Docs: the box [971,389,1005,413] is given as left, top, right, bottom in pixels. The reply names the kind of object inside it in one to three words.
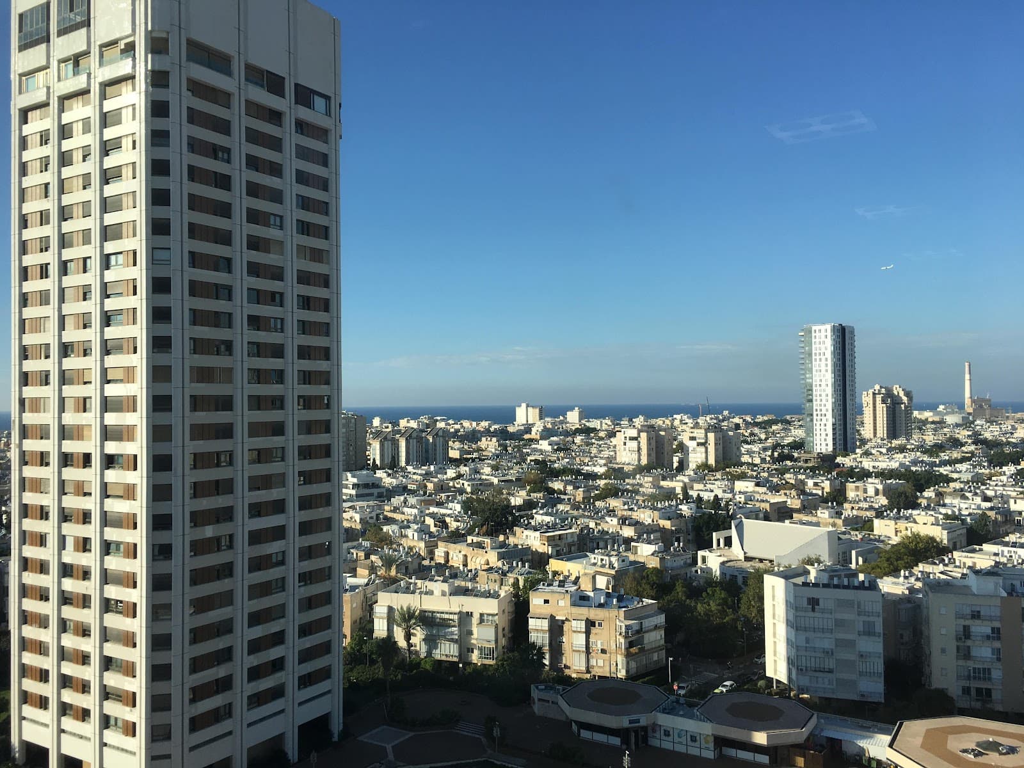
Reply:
building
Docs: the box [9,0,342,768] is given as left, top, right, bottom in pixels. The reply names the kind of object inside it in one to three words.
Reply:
building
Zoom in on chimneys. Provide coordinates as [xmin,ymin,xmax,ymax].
[964,361,976,412]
